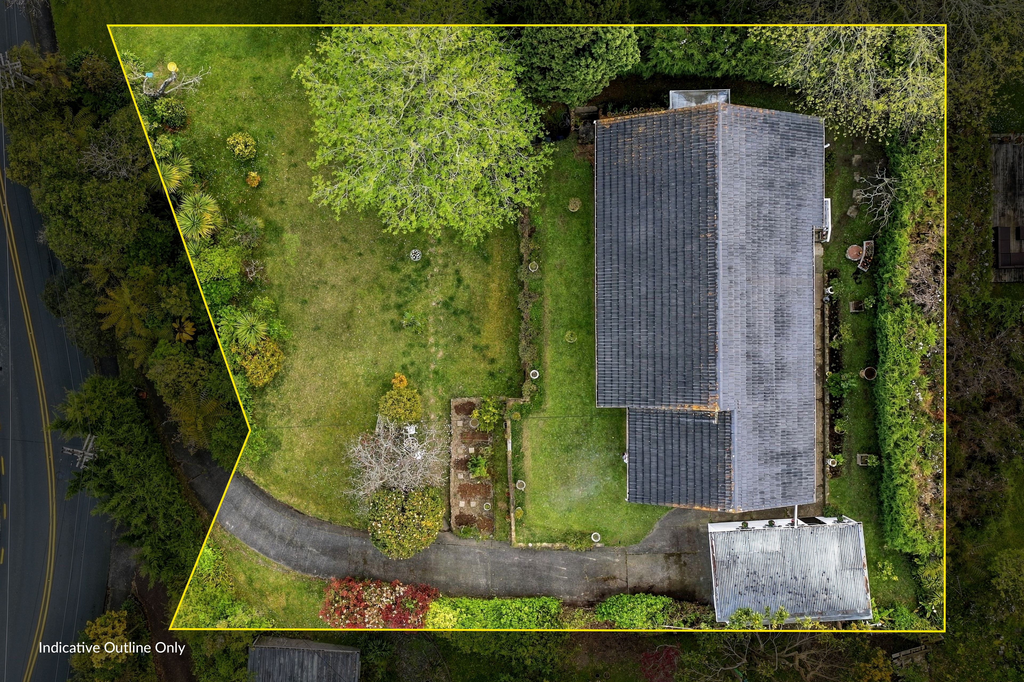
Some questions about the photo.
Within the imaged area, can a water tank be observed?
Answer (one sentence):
No, no water tank can be seen from above.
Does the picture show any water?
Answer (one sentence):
No, water can't be seen anywhere here.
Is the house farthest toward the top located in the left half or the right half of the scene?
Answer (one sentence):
It is on the right.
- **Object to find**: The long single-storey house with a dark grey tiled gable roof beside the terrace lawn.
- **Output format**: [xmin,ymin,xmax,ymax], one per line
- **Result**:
[593,91,831,530]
